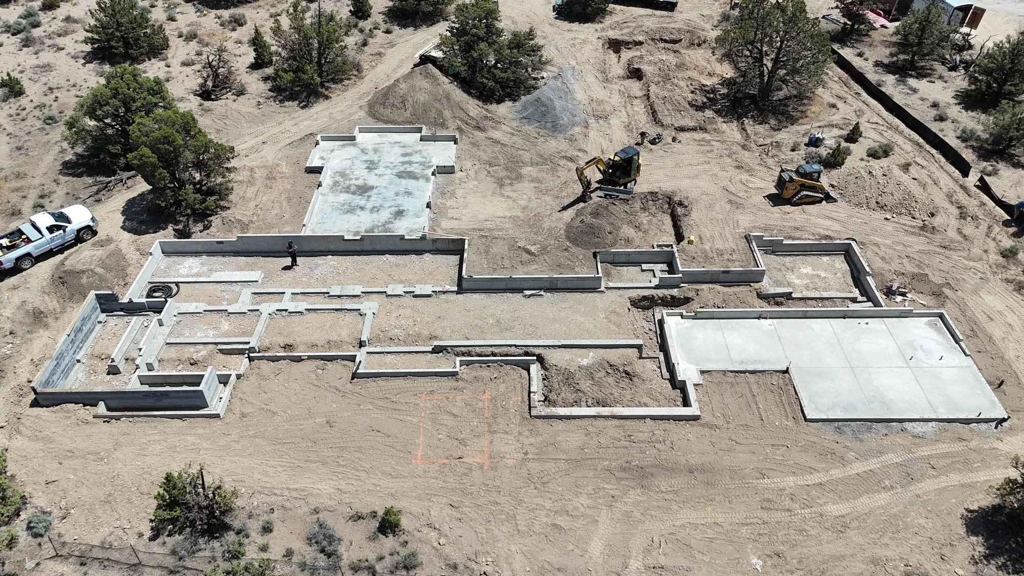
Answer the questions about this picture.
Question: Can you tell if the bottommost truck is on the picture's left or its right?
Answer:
left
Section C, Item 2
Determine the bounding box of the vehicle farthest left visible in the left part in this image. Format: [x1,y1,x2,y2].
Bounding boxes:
[0,206,103,272]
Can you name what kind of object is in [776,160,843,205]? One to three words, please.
work vehicle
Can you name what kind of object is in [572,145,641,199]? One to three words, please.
work vehicle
